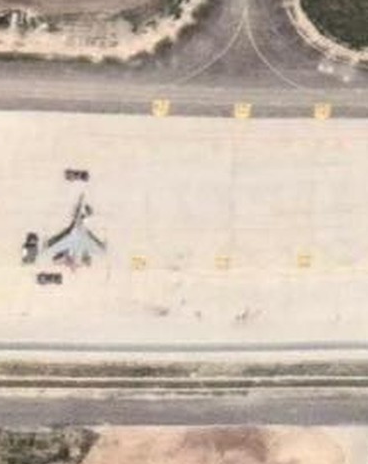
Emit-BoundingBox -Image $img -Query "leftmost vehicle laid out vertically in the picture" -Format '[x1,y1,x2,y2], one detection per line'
[22,235,38,263]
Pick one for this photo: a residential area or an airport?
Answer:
airport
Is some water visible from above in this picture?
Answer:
No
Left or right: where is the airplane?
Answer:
left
